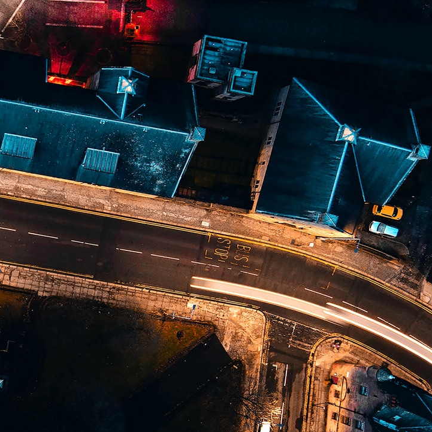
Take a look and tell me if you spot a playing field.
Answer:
No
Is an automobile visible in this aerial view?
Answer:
Yes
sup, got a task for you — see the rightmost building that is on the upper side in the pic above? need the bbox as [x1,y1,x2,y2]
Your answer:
[244,75,432,240]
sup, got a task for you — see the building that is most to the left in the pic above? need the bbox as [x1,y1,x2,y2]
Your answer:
[0,49,208,203]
